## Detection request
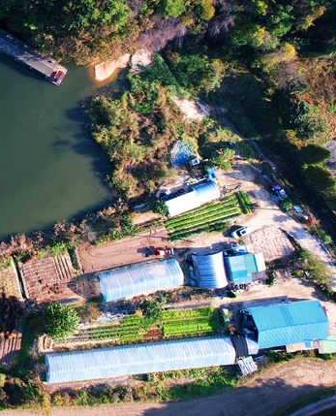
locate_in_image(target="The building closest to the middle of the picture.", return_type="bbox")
[163,192,201,216]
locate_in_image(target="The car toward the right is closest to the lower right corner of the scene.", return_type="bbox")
[229,225,251,238]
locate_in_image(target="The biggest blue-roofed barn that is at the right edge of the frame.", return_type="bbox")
[246,297,329,347]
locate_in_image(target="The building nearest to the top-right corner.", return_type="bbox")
[191,181,223,206]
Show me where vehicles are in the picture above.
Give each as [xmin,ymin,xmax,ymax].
[151,247,171,257]
[229,225,251,238]
[273,183,291,203]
